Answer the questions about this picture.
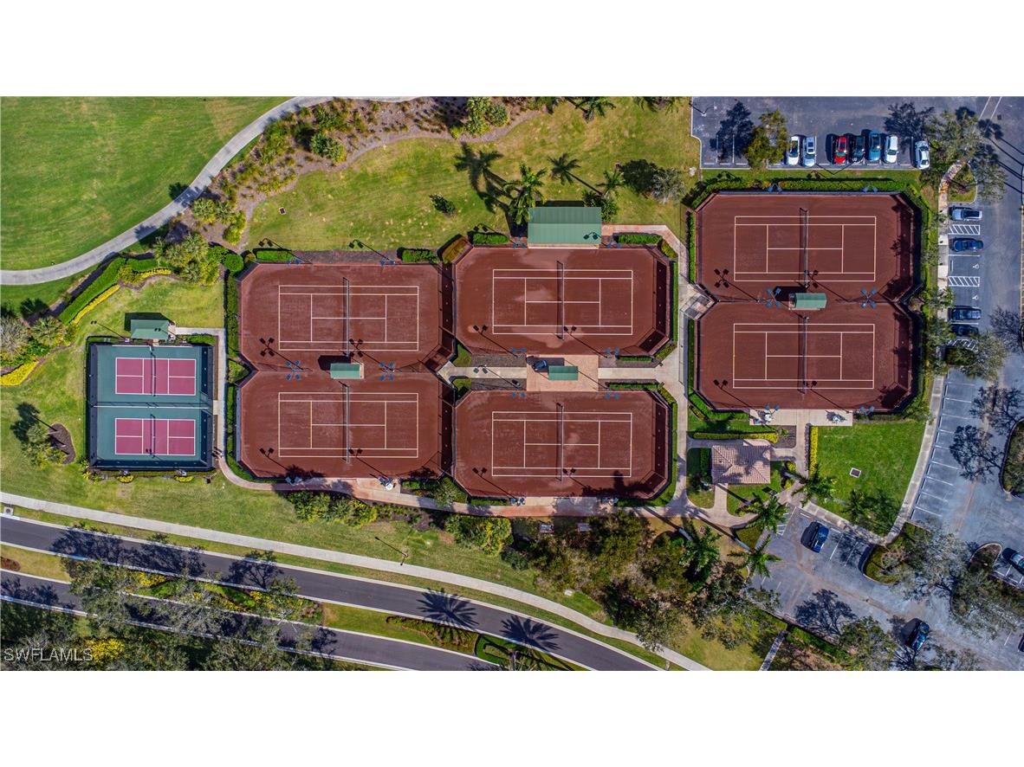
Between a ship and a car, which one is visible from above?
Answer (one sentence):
Of the two, only a car appears.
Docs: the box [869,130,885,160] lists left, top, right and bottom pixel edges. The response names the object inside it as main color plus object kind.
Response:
blue car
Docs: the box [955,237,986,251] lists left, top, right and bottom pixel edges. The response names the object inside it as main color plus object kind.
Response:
blue car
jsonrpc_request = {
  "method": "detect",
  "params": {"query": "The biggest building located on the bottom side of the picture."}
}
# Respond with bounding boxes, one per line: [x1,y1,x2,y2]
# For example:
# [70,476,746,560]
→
[711,445,771,484]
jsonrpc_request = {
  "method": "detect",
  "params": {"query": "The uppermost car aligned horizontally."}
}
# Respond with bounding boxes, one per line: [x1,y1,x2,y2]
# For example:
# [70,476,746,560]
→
[954,205,986,220]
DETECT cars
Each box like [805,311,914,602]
[788,135,802,163]
[885,133,901,162]
[917,140,933,168]
[869,130,885,160]
[853,133,868,162]
[952,323,982,336]
[954,205,986,220]
[911,623,932,652]
[804,136,819,165]
[955,237,986,251]
[835,134,851,163]
[809,524,830,553]
[954,306,985,320]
